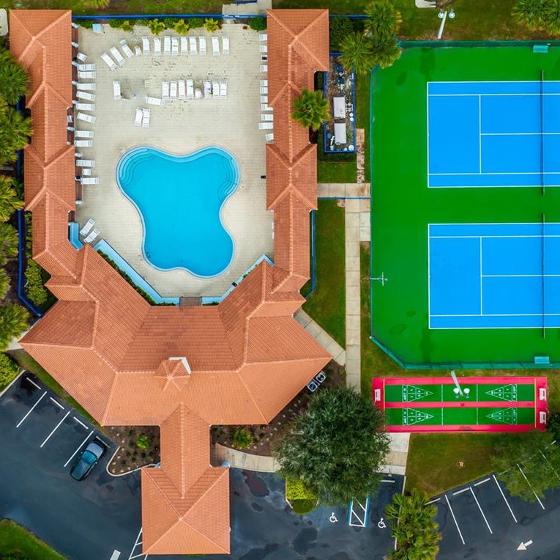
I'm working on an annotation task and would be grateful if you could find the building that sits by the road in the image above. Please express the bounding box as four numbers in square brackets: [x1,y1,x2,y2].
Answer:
[8,8,331,555]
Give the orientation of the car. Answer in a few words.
on a diagonal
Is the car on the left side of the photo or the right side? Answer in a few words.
left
